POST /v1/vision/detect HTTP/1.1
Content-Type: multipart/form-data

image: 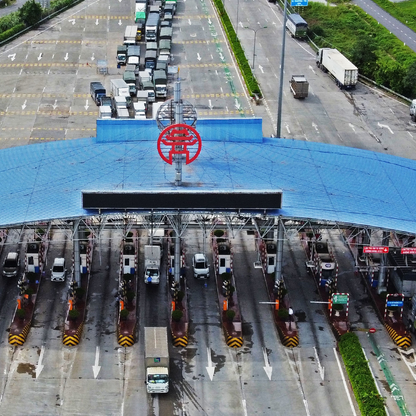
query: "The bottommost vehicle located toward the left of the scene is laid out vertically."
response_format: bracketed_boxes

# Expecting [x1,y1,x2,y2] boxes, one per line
[144,326,171,392]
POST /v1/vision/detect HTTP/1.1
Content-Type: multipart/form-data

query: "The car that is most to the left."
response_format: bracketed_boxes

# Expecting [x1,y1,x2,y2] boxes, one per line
[1,246,23,275]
